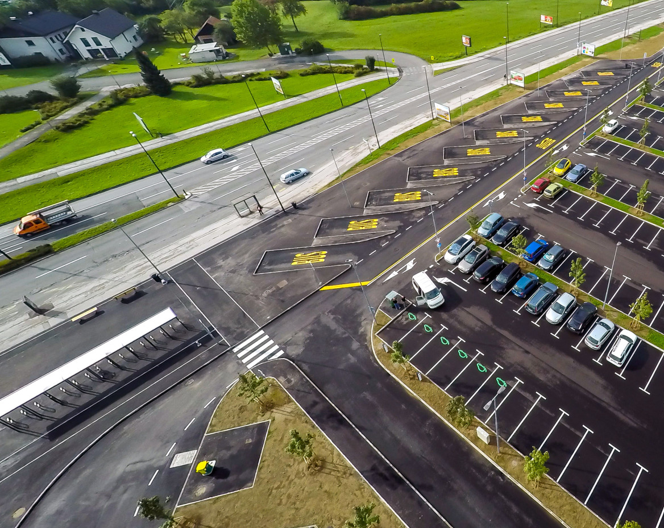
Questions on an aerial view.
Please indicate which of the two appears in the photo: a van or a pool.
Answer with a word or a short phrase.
van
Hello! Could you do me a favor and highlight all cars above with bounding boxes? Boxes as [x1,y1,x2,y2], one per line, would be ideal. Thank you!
[521,285,555,318]
[540,241,568,267]
[487,263,520,297]
[527,235,552,258]
[562,306,594,340]
[583,319,613,354]
[455,246,489,275]
[495,218,524,243]
[471,256,505,285]
[542,183,564,201]
[601,327,636,369]
[529,178,551,195]
[440,238,473,267]
[200,147,230,164]
[480,210,508,236]
[503,276,535,305]
[554,157,574,175]
[605,118,622,132]
[565,162,588,180]
[542,294,573,329]
[277,167,310,185]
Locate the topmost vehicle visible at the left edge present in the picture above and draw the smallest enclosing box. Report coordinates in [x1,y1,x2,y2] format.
[12,199,90,239]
